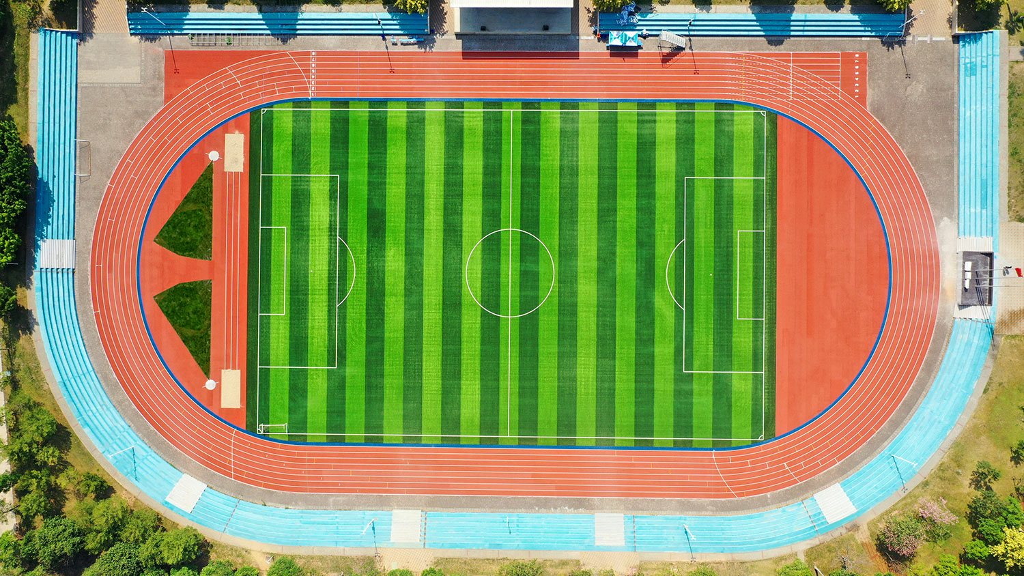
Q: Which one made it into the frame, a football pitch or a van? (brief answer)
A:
football pitch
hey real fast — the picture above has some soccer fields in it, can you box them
[246,101,777,447]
